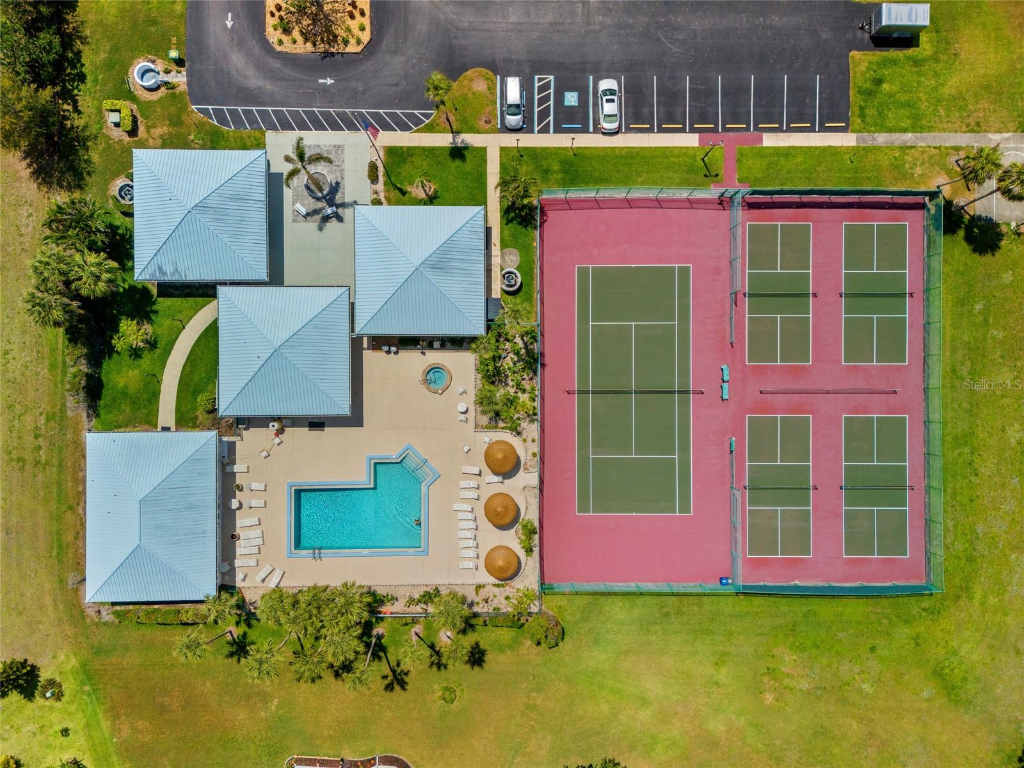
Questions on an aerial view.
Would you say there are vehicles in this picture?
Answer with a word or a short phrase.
Yes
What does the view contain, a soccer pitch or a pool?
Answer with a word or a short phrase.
pool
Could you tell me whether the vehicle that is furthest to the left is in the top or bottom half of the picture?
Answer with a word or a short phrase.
top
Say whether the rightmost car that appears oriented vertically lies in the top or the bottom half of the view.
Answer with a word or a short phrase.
top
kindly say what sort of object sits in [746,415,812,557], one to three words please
sports court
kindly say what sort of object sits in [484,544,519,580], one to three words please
umbrella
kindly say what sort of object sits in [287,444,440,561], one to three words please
swimming pool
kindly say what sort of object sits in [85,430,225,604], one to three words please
building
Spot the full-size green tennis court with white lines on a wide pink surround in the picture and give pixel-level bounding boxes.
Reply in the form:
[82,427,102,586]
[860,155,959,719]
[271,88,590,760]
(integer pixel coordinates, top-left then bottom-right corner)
[539,197,736,583]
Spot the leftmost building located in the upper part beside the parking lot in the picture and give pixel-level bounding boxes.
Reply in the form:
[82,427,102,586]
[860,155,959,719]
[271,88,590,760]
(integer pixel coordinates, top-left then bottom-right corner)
[131,149,270,283]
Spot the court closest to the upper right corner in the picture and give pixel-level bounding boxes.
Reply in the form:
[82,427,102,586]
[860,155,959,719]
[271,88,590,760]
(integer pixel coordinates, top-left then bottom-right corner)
[975,146,1024,222]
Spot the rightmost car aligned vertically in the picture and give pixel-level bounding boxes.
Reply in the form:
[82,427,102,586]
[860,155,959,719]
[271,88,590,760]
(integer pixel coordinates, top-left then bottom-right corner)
[599,79,623,133]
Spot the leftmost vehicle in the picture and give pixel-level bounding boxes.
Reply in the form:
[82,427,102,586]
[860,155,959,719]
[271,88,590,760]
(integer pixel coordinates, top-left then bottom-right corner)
[502,75,526,130]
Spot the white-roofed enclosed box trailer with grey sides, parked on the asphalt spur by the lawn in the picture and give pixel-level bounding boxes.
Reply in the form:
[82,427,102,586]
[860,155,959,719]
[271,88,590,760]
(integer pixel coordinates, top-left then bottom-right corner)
[859,2,930,38]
